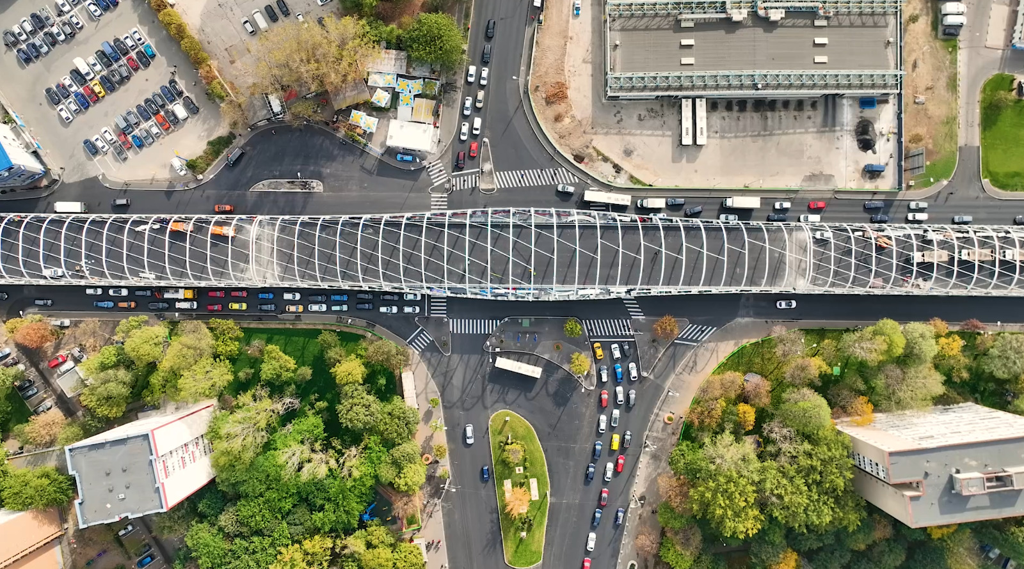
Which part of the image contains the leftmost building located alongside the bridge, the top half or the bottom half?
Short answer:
top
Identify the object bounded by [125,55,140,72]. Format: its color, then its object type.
red car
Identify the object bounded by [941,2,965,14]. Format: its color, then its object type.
white vehicle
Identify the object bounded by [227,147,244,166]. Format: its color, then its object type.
gray car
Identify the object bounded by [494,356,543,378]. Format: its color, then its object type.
white bus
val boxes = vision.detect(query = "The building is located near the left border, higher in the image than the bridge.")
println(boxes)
[0,98,42,185]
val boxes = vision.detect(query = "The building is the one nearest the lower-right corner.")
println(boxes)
[833,404,1024,528]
